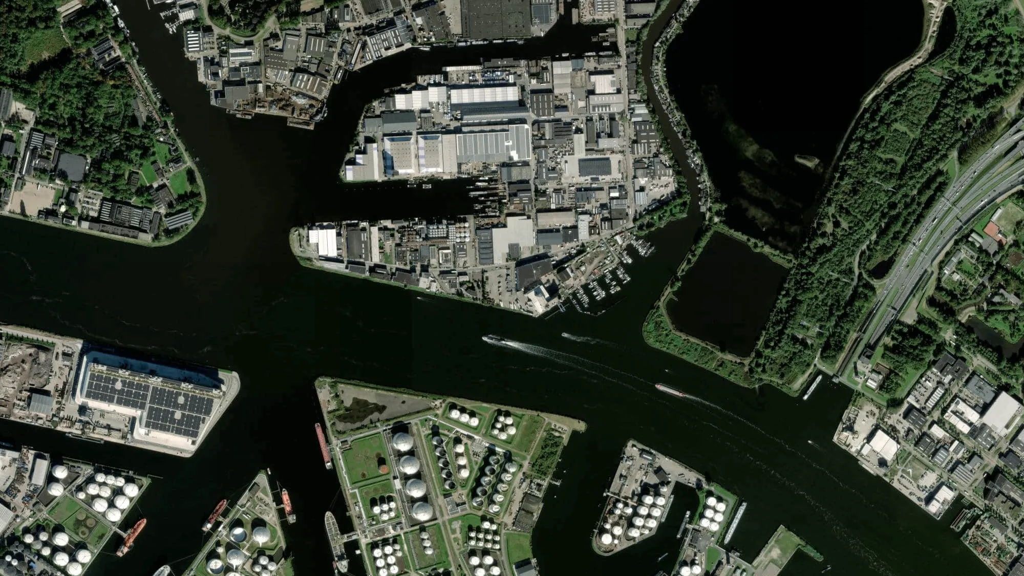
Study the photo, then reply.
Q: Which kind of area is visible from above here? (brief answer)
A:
port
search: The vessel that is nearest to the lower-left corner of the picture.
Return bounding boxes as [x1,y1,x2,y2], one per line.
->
[117,518,146,558]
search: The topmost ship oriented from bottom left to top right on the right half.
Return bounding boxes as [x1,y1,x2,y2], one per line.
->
[803,375,822,400]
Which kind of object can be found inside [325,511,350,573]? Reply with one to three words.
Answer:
ship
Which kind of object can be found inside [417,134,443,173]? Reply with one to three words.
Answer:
building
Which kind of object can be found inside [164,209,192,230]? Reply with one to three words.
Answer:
building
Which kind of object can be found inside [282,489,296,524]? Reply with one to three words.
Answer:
ship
